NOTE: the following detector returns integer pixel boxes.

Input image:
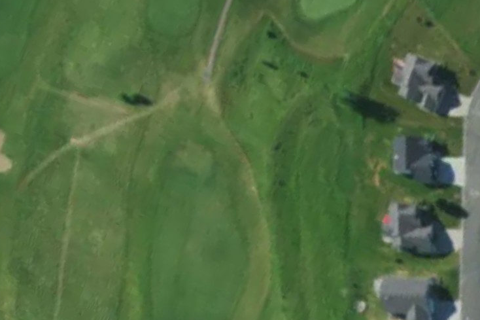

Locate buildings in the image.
[388,201,436,257]
[398,54,444,113]
[393,134,441,185]
[379,278,433,320]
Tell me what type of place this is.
golf course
